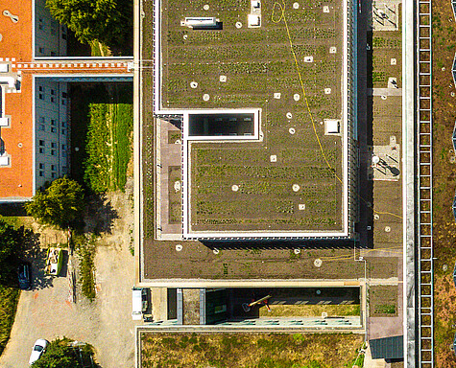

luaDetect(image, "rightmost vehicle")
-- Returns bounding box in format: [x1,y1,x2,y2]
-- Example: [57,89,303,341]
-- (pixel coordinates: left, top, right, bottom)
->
[130,289,145,322]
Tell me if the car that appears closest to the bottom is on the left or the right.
left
